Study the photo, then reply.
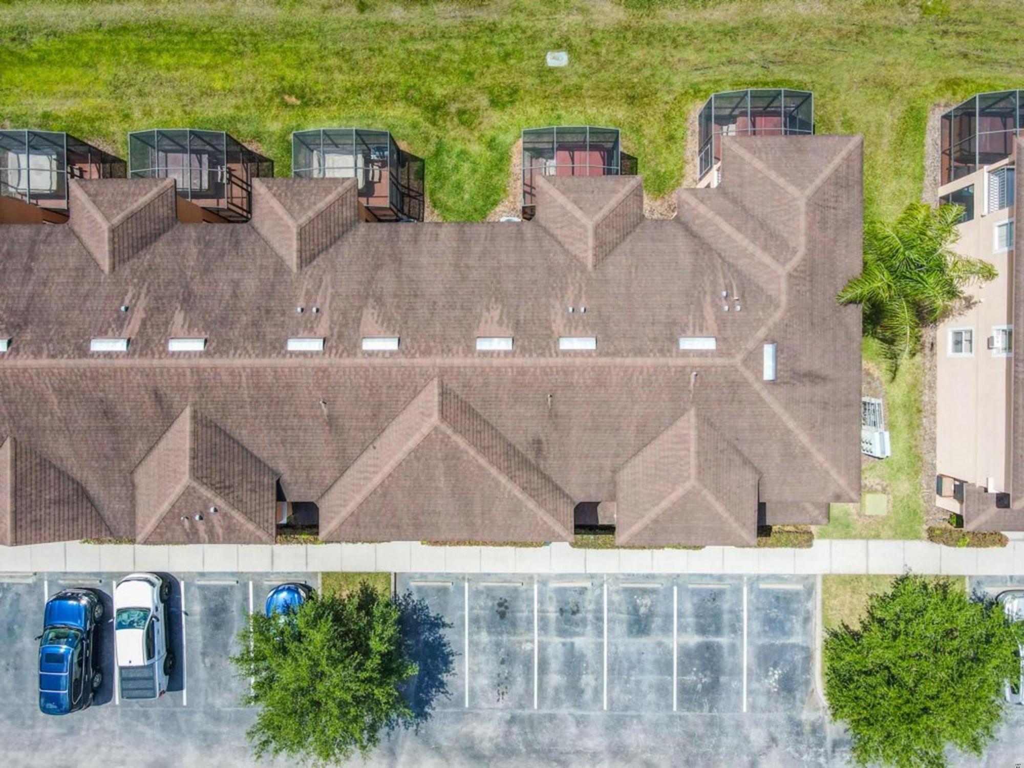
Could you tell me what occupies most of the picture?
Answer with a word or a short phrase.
buildings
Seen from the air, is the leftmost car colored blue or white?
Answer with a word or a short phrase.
blue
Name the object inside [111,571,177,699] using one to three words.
truck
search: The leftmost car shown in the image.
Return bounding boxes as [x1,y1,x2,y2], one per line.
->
[37,588,104,714]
